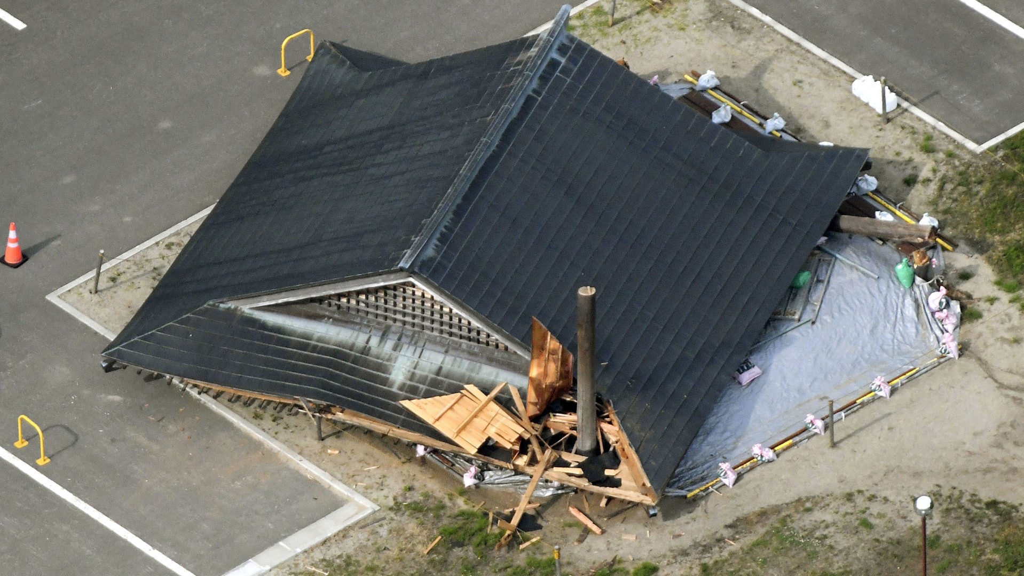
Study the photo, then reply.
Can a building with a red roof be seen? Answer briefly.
No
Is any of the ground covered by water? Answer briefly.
No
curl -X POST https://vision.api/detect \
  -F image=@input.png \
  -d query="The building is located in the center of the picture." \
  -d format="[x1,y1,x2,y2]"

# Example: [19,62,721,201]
[98,15,870,517]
